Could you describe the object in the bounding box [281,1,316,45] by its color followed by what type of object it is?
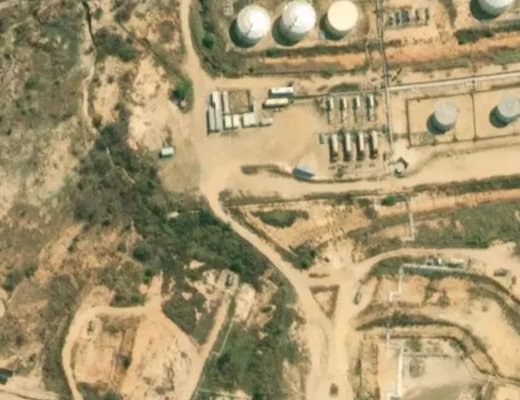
white storage tank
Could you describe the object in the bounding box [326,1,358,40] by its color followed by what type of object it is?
white storage tank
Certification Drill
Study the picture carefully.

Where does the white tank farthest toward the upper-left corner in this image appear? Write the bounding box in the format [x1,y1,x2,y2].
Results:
[236,6,270,48]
